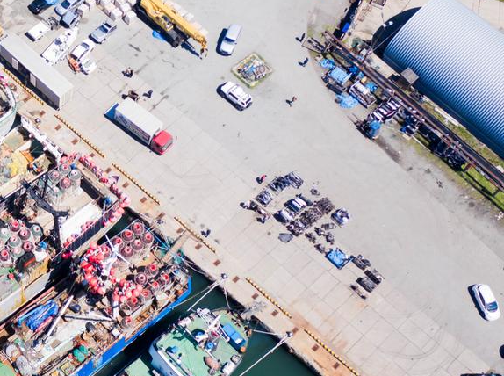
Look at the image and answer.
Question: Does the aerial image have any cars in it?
Yes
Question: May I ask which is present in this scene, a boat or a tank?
boat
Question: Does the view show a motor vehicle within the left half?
Yes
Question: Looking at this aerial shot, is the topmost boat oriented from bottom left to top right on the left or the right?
left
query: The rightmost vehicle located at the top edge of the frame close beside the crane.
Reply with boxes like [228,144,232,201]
[219,15,244,54]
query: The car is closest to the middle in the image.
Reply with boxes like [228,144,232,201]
[219,78,256,110]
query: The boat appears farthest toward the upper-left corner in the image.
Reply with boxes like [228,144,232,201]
[40,21,82,58]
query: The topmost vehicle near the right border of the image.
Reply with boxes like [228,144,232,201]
[471,280,504,322]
